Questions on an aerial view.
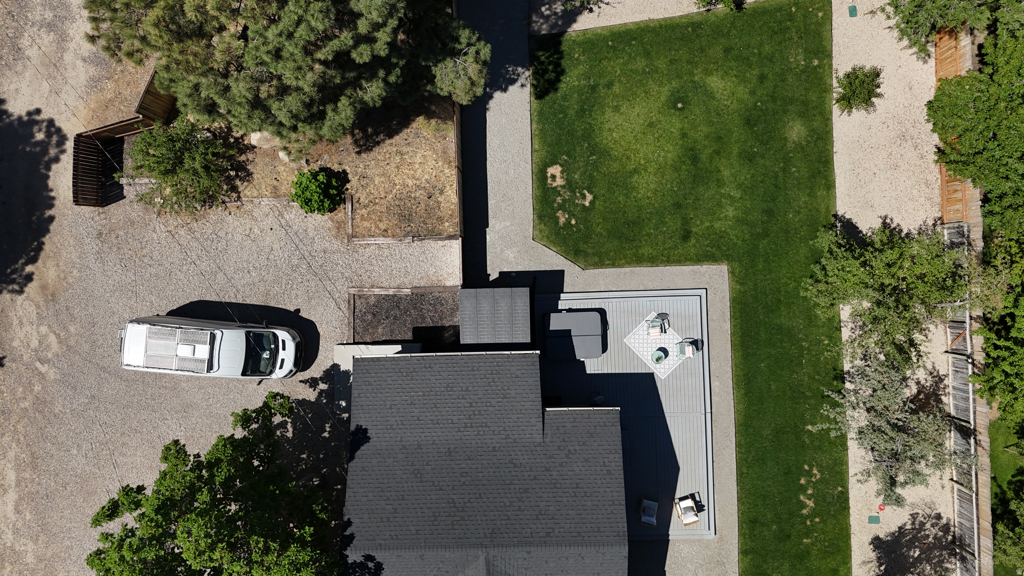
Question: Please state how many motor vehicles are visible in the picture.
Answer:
1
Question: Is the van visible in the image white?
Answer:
Yes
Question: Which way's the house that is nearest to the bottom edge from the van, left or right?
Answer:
to the right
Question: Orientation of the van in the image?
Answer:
from side to side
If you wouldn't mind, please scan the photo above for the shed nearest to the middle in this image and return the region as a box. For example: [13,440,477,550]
[459,287,531,344]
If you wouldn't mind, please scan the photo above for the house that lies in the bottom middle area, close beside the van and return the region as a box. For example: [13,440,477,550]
[343,348,628,576]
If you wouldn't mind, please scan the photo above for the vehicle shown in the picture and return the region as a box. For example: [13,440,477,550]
[116,315,308,389]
